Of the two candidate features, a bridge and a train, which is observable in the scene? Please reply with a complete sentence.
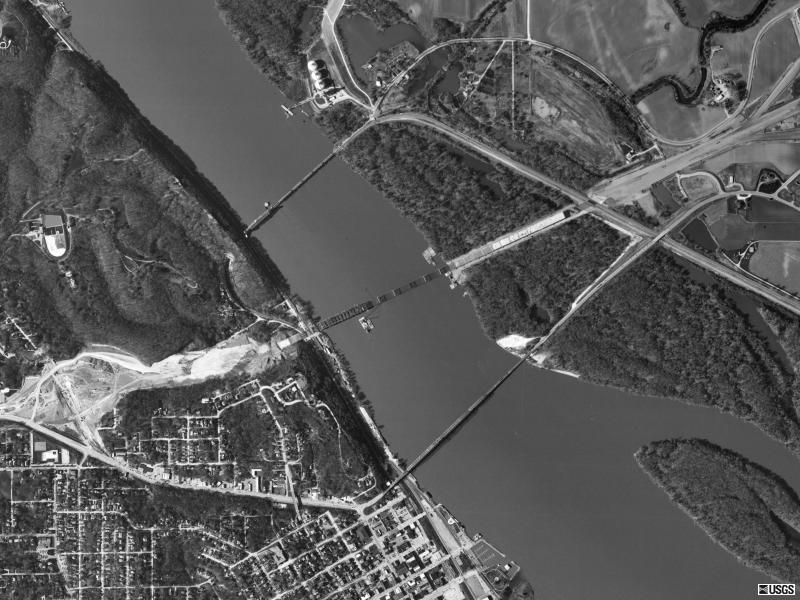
This aerial view contains a bridge.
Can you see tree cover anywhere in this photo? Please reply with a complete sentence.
Yes, the picture does contain tree cover.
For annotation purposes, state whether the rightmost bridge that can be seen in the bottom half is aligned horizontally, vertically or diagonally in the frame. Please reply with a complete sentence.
The rightmost bridge that can be seen in the bottom half has been laid out diagonally relative to the frame.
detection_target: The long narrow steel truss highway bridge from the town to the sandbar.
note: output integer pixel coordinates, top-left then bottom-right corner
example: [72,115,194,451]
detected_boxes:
[392,346,545,484]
